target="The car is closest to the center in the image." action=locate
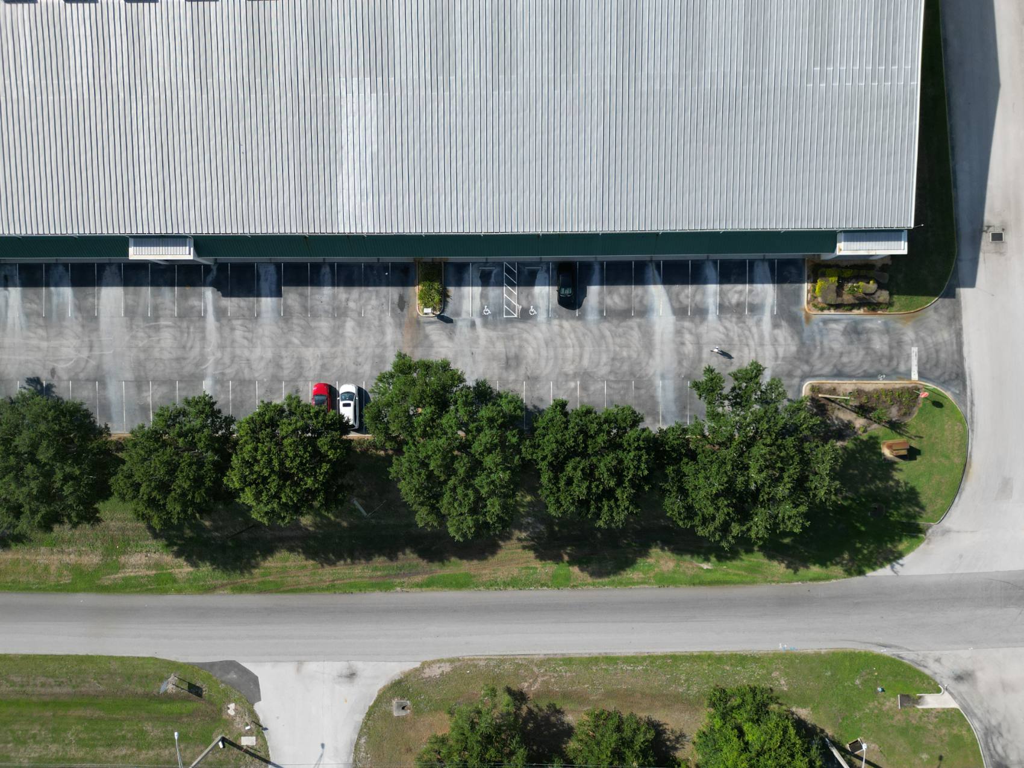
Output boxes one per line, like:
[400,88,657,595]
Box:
[554,262,576,308]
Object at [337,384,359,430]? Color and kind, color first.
white car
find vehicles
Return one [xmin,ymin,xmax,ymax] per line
[554,262,576,308]
[310,383,332,427]
[337,384,359,430]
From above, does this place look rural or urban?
urban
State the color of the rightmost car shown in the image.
black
